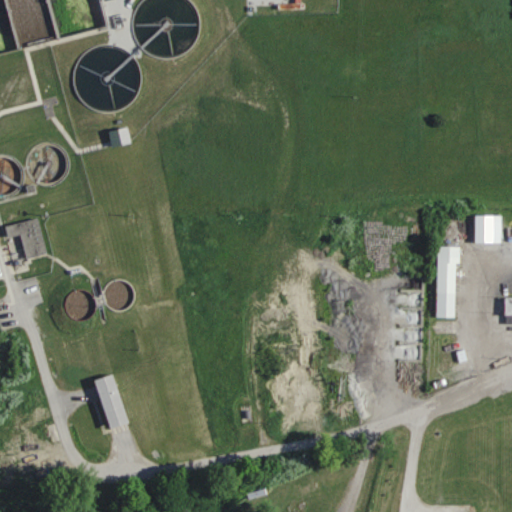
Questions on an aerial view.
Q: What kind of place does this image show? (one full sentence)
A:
This looks like an industrial area.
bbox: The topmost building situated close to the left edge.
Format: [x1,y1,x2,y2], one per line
[4,218,46,259]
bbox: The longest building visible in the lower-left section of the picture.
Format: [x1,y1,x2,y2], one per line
[94,375,128,430]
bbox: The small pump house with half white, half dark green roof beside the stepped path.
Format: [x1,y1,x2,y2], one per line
[104,126,131,148]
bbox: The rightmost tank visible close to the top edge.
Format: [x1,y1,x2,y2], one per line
[133,0,201,59]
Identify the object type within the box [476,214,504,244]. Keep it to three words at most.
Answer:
shed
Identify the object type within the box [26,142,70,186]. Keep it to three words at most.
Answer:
storage tank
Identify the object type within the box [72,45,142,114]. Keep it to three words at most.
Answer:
storage tank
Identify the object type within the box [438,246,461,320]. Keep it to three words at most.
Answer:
barn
